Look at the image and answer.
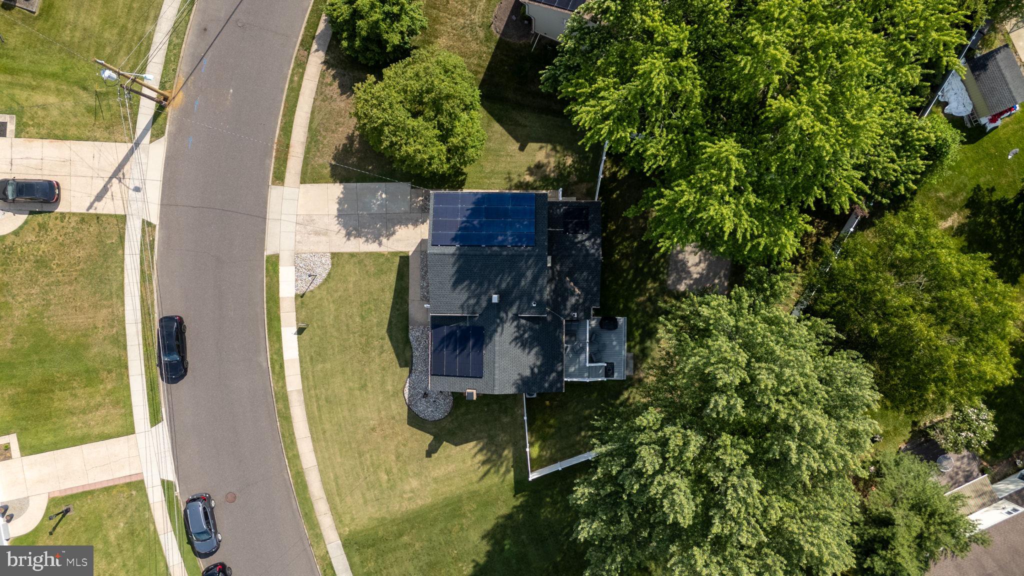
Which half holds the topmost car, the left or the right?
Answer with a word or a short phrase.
left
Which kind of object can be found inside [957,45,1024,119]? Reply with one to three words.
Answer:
shed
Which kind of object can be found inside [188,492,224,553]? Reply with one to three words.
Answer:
car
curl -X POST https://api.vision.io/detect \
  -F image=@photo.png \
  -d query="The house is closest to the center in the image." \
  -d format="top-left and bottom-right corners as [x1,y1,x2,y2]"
[425,189,604,399]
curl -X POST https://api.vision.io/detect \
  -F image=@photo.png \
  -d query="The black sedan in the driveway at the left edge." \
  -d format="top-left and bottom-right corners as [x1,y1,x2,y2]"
[0,175,65,205]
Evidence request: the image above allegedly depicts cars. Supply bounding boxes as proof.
[156,316,191,381]
[206,558,236,576]
[0,175,65,205]
[188,492,224,553]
